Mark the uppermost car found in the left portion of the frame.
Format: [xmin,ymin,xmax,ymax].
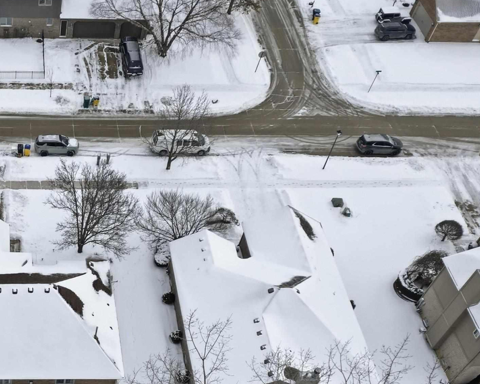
[122,38,148,70]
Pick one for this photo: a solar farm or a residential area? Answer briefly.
residential area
